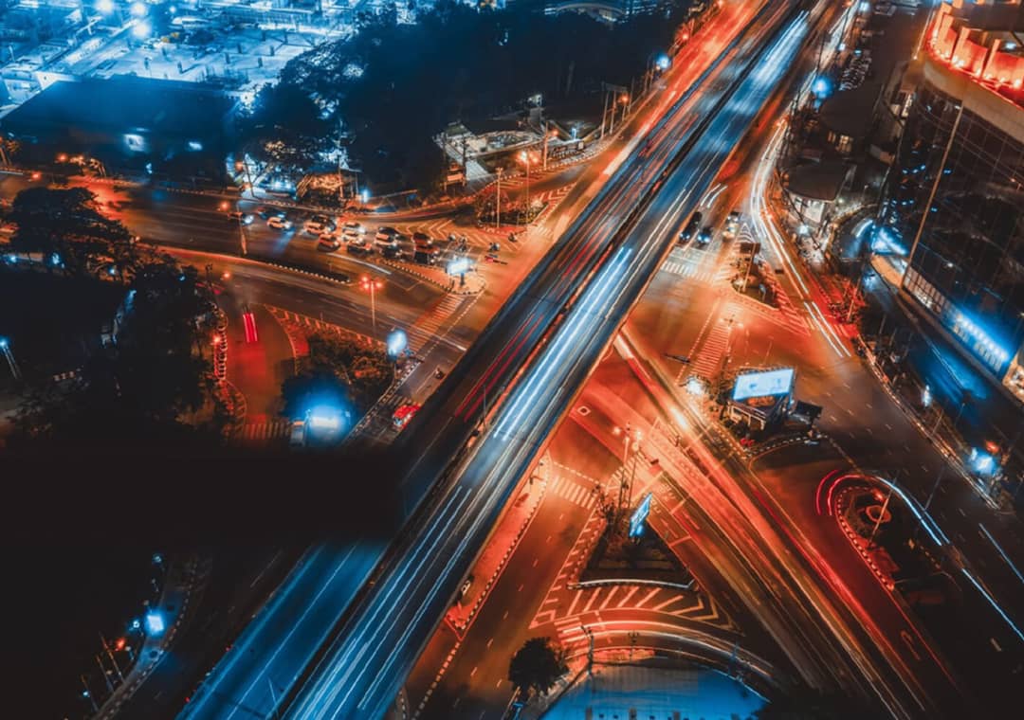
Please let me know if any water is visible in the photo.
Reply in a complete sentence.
No, water can't be seen anywhere here.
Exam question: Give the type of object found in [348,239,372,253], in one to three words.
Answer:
car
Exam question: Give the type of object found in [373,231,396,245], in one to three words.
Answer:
car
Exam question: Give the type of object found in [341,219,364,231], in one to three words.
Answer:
vehicle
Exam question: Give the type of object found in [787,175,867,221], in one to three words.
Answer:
building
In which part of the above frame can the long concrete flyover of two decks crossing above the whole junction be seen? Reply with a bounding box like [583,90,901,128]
[167,0,833,720]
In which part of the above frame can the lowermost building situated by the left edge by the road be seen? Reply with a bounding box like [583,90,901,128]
[0,92,262,190]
